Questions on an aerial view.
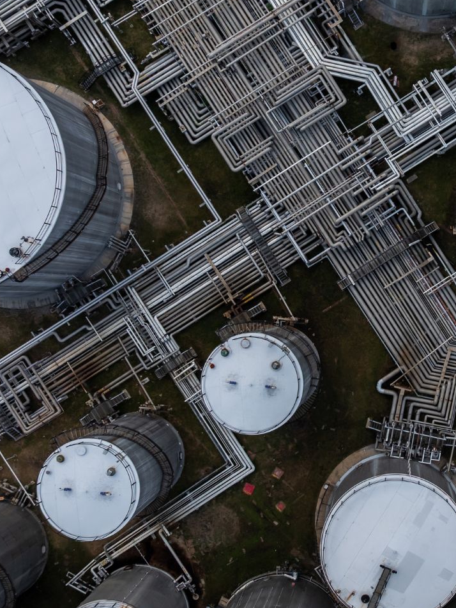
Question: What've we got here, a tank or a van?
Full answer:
I can see a tank in this picture.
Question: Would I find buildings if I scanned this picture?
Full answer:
No, this view has no building in it.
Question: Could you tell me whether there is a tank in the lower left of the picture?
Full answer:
Yes, looking in the lower left of the picture, one can make out a tank.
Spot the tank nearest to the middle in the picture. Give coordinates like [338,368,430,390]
[196,318,327,437]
